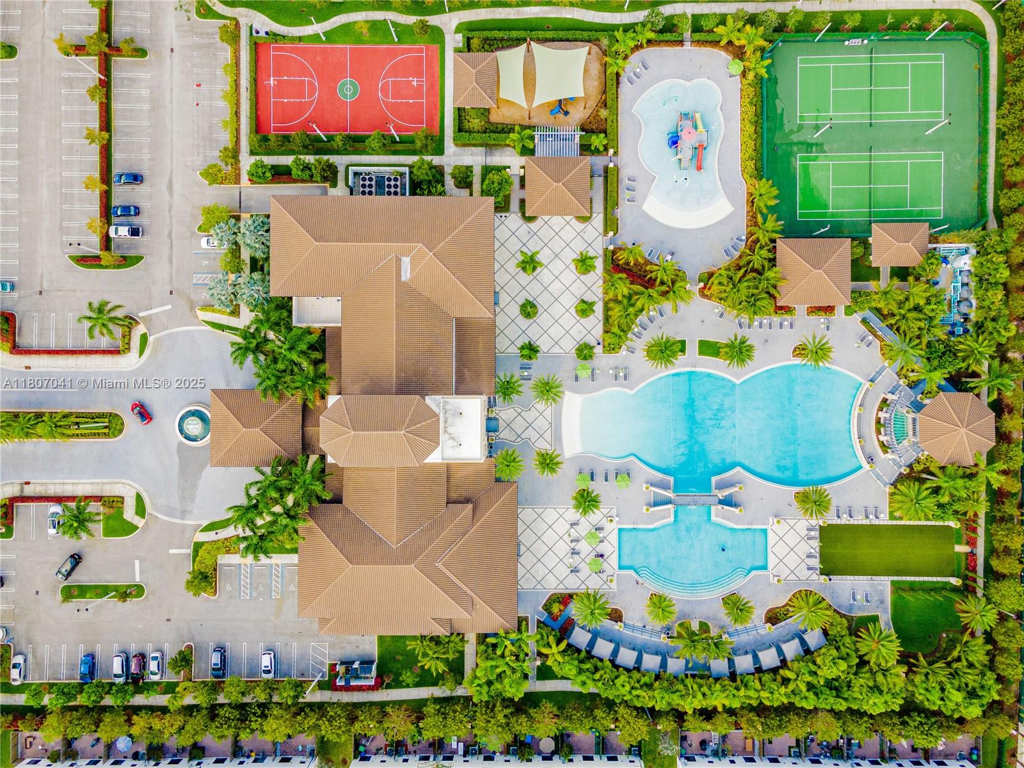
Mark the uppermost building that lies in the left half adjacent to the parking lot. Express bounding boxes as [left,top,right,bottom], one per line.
[269,195,518,638]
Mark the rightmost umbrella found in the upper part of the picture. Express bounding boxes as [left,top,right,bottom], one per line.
[726,60,743,76]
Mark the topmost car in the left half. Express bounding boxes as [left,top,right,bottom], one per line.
[112,170,141,185]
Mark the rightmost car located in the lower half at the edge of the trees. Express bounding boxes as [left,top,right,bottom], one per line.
[258,652,273,680]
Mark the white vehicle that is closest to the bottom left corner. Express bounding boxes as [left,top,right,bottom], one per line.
[7,655,25,687]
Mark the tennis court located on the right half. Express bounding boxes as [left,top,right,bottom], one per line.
[763,36,983,237]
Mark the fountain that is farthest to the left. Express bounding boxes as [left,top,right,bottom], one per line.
[174,407,211,444]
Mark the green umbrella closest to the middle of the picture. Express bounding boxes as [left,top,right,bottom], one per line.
[575,362,591,379]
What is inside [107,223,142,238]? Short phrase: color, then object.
white vehicle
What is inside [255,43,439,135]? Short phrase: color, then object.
red basketball court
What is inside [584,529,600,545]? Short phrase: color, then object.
green umbrella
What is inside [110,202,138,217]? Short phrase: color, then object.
blue car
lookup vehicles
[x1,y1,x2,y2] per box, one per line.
[110,202,138,217]
[258,652,273,680]
[129,401,151,427]
[44,505,62,536]
[77,655,93,685]
[126,655,144,685]
[199,235,225,249]
[7,655,25,687]
[112,170,141,185]
[108,655,126,686]
[54,554,79,582]
[208,650,225,680]
[146,653,162,682]
[107,223,142,238]
[0,281,12,293]
[0,628,7,641]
